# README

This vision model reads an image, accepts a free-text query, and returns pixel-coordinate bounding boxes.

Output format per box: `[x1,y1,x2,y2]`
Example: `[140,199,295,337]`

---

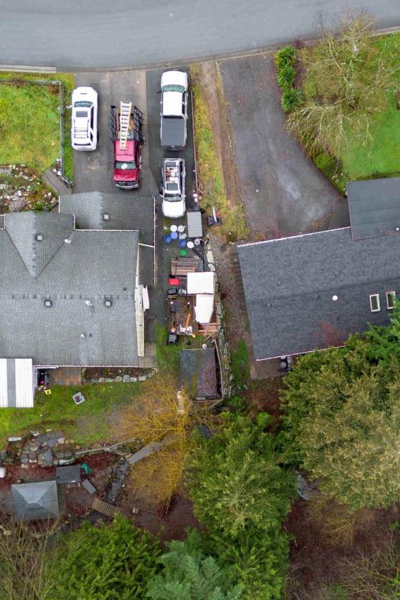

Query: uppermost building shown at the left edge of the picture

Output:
[0,192,159,368]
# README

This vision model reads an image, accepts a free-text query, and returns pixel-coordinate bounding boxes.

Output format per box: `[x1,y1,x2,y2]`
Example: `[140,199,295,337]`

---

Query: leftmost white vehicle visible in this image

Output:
[69,88,102,151]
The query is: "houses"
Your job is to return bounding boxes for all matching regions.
[0,192,159,368]
[237,176,400,362]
